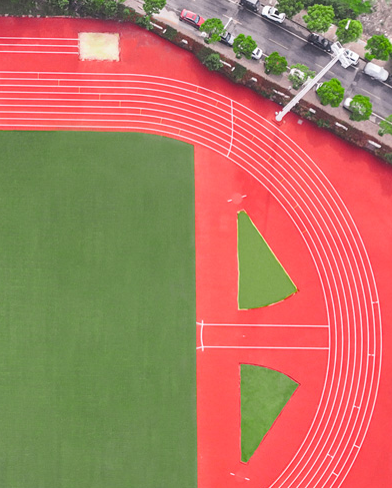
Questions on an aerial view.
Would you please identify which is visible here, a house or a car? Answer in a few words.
car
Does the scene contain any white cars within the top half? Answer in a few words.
Yes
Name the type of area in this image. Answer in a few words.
sports ground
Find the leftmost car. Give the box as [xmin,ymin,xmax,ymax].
[178,8,204,30]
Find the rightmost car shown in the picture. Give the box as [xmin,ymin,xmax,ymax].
[360,59,389,83]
